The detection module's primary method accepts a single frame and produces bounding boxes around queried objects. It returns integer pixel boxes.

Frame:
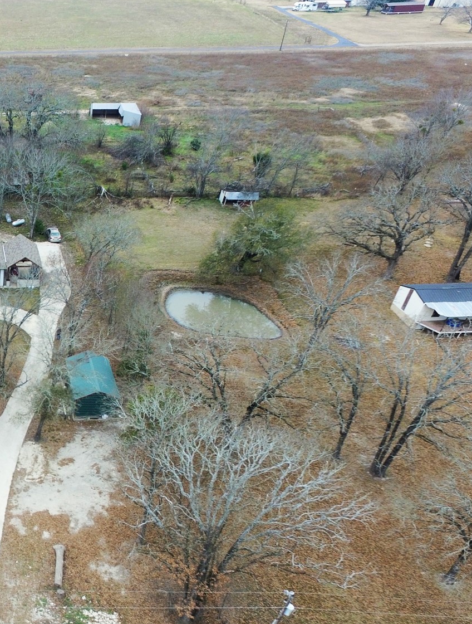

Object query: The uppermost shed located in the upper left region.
[88,96,153,124]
